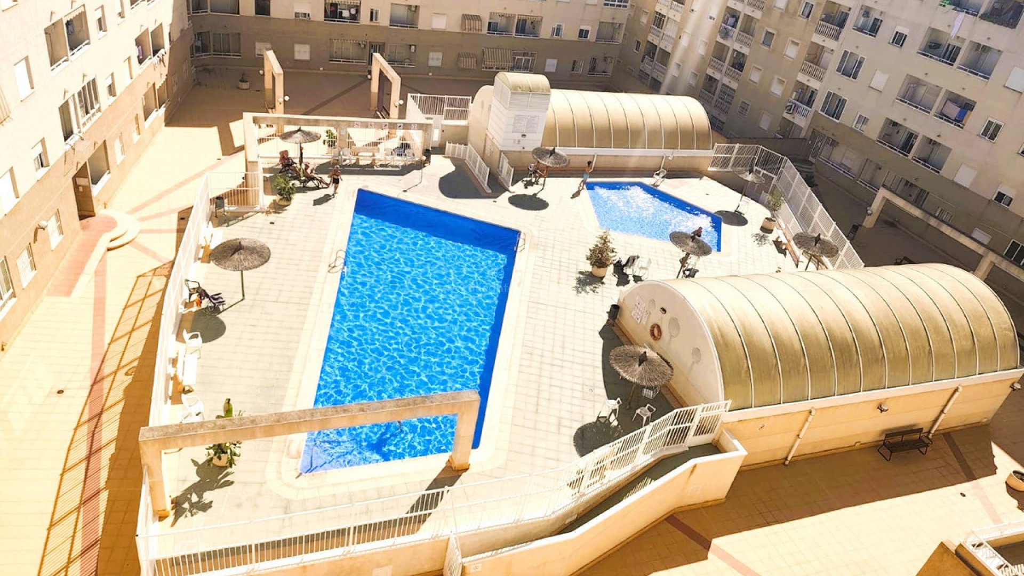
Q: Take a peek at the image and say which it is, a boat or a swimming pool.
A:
swimming pool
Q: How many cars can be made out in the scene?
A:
0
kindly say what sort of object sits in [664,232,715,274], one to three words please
umbrella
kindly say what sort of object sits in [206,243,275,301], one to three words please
umbrella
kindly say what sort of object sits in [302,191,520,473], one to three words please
swimming pool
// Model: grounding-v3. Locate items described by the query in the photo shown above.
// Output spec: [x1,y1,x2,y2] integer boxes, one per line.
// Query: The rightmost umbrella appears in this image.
[794,226,842,267]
